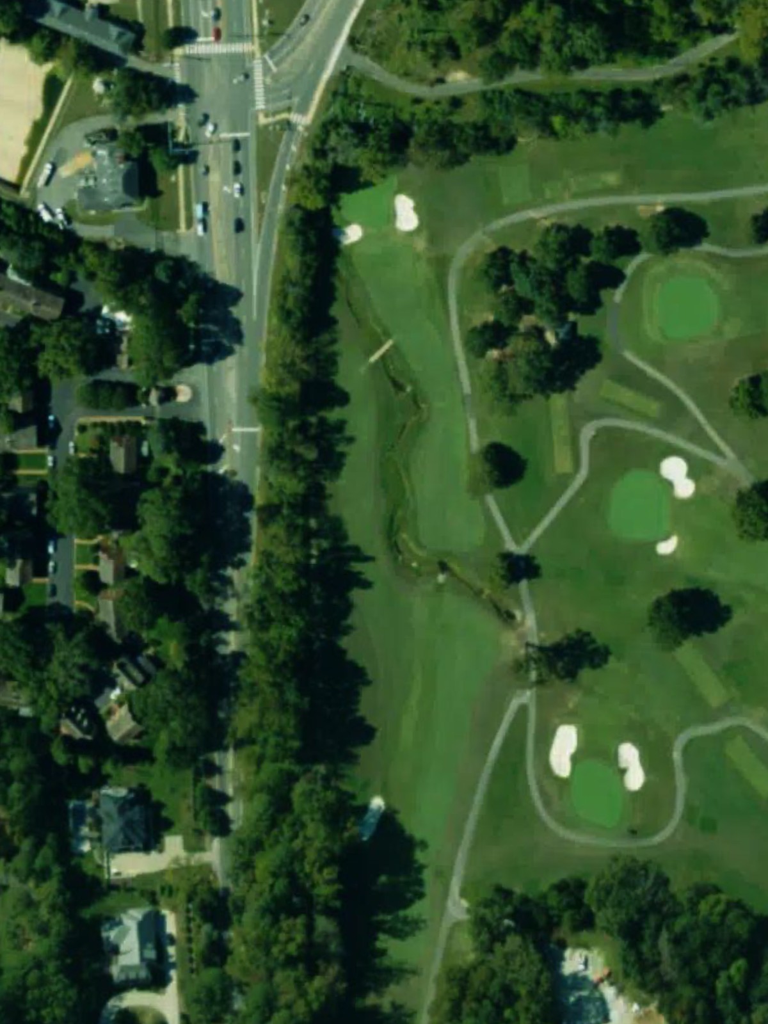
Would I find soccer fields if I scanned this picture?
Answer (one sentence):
No, the frame has no soccer field in it.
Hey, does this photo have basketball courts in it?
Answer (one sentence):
No, no basketball court is visible in the scene.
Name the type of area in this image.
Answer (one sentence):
What you see here is a golf course.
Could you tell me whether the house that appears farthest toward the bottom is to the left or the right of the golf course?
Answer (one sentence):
In the image, the house that appears farthest toward the bottom sits on the left side of the golf course.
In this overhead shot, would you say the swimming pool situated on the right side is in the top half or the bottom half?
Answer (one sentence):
It is in the bottom half that the swimming pool situated on the right side appears.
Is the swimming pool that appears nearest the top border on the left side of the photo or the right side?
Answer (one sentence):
The swimming pool that appears nearest the top border is on the left side of the image.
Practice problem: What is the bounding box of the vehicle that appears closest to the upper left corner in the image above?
[38,163,53,187]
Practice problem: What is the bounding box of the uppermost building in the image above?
[30,0,139,60]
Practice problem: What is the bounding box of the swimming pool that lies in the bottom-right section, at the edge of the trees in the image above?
[558,985,616,1024]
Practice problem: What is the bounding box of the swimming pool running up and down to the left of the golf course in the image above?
[69,801,91,853]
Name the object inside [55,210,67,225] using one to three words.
vehicle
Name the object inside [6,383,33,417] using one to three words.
house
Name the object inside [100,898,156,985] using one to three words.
house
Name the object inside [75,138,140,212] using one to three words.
building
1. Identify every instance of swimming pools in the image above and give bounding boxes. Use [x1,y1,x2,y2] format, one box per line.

[558,985,616,1024]
[69,801,91,853]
